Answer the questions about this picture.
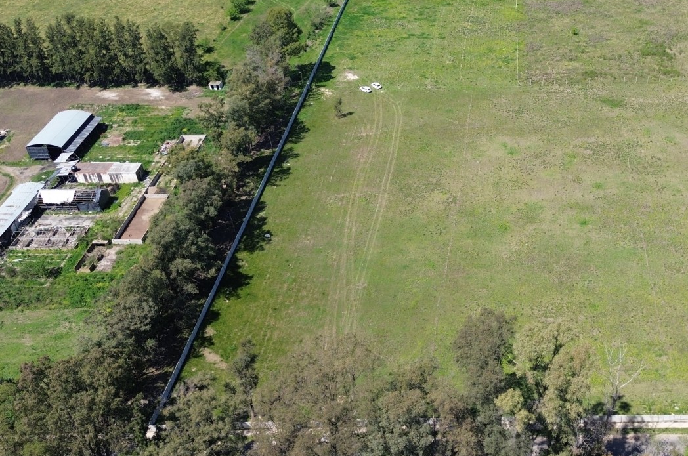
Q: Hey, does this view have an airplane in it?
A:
No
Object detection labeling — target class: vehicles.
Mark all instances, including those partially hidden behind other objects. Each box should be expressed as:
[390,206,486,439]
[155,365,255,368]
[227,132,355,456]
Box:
[359,83,373,92]
[371,80,382,89]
